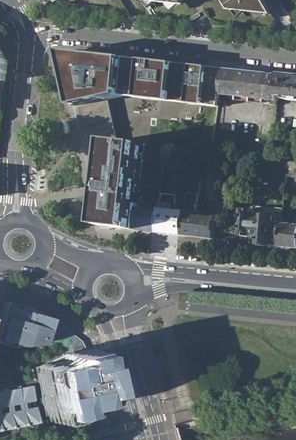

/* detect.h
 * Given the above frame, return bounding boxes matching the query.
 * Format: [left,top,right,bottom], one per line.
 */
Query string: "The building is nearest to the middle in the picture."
[151,206,180,235]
